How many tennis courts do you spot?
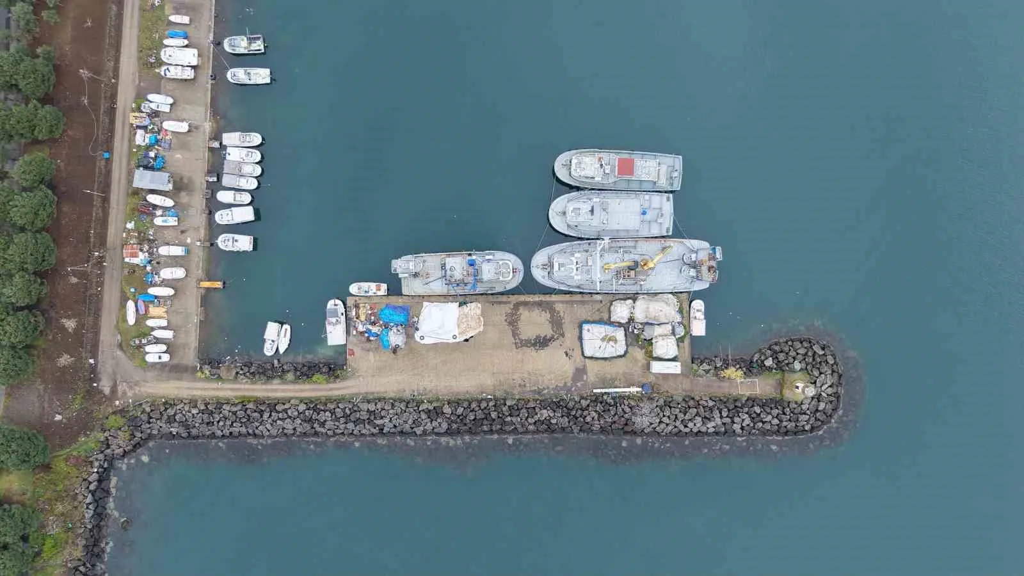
zero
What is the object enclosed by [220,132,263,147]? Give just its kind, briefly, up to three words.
boat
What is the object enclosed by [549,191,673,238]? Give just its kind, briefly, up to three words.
vessel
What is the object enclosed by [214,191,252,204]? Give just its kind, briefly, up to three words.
boat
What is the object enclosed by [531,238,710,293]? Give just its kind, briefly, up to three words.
vessel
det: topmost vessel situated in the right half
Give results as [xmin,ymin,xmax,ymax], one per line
[555,149,683,191]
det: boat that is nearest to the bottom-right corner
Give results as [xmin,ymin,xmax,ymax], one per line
[691,300,706,336]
